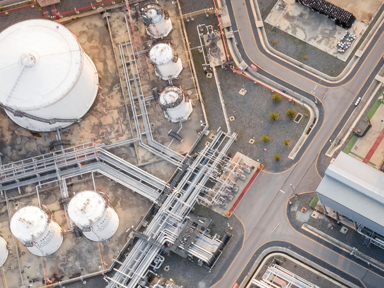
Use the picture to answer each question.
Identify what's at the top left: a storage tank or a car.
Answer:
storage tank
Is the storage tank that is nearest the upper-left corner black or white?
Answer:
white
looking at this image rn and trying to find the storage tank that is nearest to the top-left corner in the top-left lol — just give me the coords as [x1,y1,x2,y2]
[0,17,98,135]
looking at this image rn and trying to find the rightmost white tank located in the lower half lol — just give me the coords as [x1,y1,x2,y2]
[66,190,120,241]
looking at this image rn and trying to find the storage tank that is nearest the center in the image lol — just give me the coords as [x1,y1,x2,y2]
[156,80,195,127]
